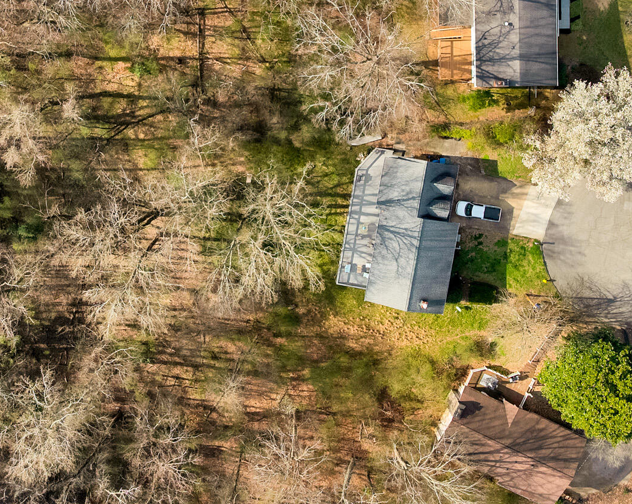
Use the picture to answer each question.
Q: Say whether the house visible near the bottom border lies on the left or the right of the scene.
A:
right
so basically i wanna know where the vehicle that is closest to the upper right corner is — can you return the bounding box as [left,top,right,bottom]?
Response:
[455,201,503,222]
